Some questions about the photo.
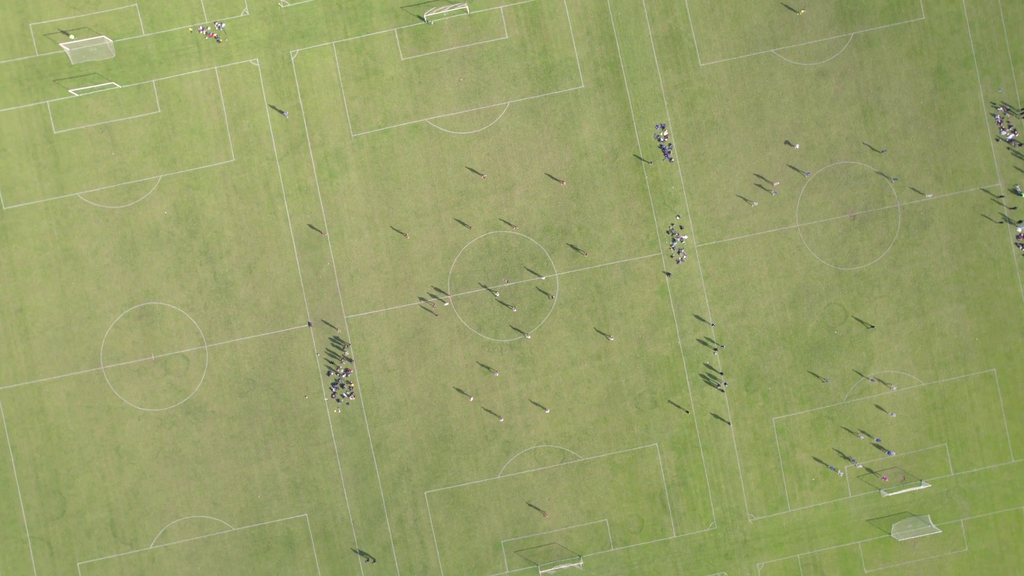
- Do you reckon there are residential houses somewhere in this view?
No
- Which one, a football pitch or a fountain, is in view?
football pitch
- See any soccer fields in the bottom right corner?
Yes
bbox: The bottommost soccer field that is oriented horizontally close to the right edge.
[757,507,1024,576]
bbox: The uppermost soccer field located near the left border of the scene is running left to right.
[0,0,249,63]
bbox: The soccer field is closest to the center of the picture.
[290,0,717,576]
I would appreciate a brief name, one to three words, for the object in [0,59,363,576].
soccer field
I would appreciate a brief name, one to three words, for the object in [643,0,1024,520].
soccer field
